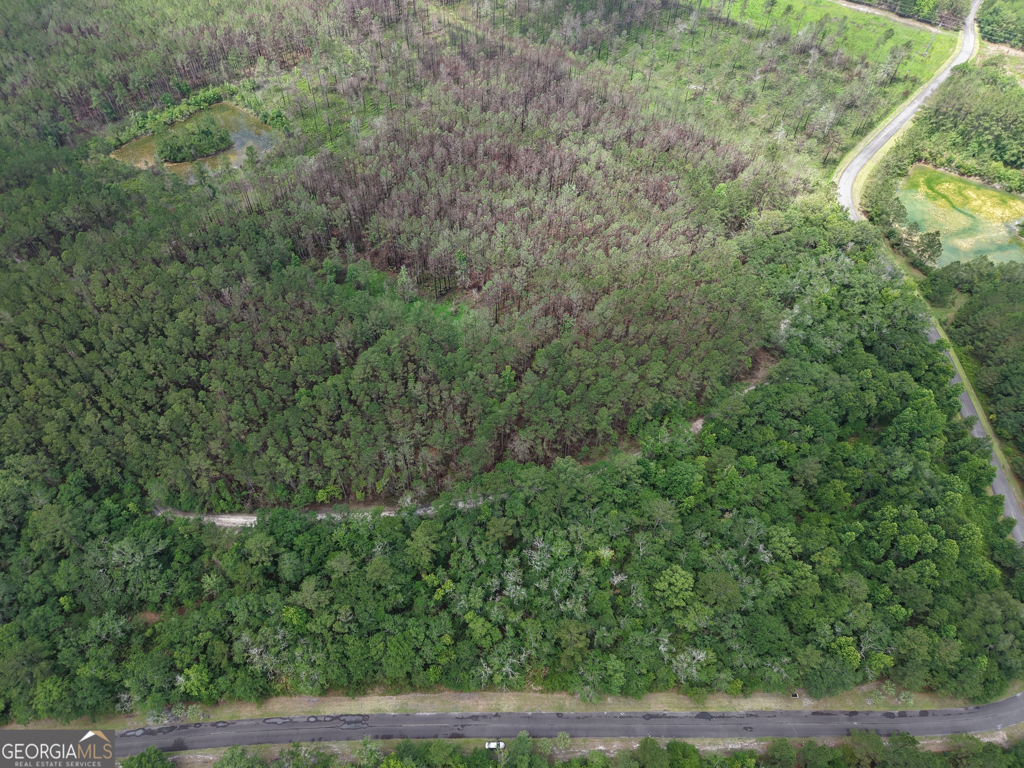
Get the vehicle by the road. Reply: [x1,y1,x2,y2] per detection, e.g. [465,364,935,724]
[485,736,506,750]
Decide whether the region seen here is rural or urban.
rural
